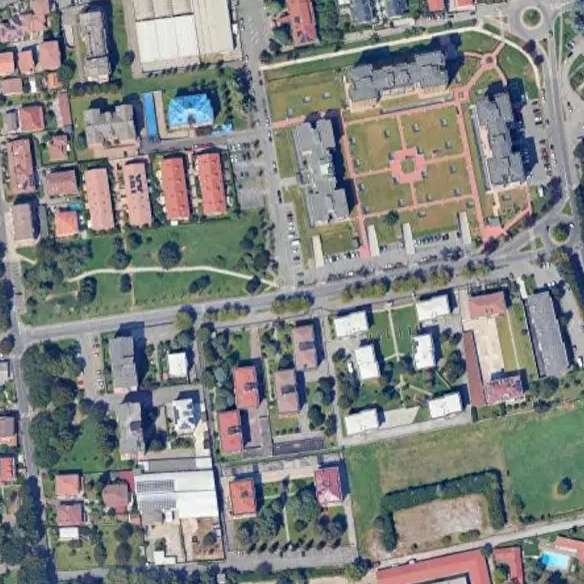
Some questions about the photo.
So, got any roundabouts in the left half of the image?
No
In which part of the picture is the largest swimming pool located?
bottom right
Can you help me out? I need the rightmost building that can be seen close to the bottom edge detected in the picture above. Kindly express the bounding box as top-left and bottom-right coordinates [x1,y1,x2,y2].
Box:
[556,537,584,561]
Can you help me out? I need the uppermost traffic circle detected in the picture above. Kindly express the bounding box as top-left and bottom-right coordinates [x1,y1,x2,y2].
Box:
[507,0,554,39]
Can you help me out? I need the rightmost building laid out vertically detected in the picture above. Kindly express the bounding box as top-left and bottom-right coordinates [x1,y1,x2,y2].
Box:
[526,292,569,380]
